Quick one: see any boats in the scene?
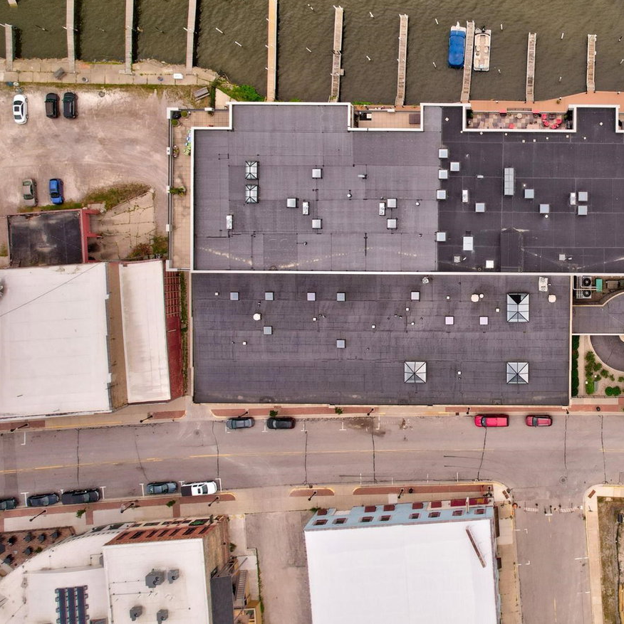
Yes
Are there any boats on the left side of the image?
No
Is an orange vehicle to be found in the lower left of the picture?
No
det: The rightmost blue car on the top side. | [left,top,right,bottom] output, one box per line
[49,178,65,204]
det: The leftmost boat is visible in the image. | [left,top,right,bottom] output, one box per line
[447,23,466,70]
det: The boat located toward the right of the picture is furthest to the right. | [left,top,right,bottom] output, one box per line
[475,27,493,73]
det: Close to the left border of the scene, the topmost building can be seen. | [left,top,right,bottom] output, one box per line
[9,209,111,267]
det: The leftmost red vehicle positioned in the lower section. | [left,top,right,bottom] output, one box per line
[476,414,509,428]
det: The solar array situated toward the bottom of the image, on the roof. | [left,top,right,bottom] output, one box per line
[56,585,90,624]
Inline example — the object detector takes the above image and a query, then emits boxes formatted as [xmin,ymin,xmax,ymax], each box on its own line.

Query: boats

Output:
[475,27,493,73]
[447,23,466,70]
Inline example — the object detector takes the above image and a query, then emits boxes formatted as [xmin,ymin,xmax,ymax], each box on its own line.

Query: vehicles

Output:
[0,496,19,512]
[12,95,30,123]
[62,93,79,119]
[180,481,219,497]
[269,417,296,430]
[22,178,39,206]
[228,417,256,430]
[49,178,65,204]
[527,415,553,428]
[61,487,102,505]
[476,414,509,428]
[30,492,60,506]
[43,93,60,119]
[149,481,178,495]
